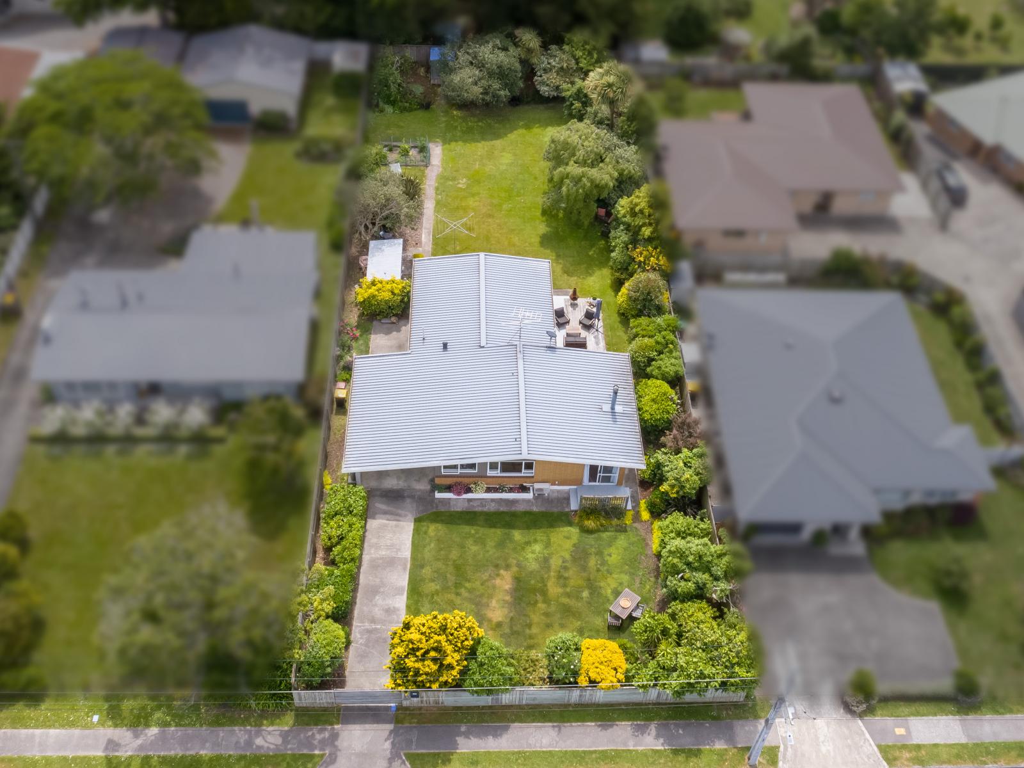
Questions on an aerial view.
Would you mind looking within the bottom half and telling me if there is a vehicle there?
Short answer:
No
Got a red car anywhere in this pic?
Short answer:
No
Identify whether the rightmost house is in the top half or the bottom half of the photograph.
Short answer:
top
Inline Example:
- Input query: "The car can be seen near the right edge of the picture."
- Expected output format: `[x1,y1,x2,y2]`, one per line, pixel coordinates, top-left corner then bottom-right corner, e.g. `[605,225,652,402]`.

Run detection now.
[924,159,974,201]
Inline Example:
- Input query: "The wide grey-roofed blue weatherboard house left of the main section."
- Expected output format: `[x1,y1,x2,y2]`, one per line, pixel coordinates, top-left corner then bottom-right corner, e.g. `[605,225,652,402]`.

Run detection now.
[26,215,321,420]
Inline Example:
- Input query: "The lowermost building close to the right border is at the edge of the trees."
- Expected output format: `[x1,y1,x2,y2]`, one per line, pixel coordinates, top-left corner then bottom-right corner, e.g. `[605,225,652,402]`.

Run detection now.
[693,288,1001,555]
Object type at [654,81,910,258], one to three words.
house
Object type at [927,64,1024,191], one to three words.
house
